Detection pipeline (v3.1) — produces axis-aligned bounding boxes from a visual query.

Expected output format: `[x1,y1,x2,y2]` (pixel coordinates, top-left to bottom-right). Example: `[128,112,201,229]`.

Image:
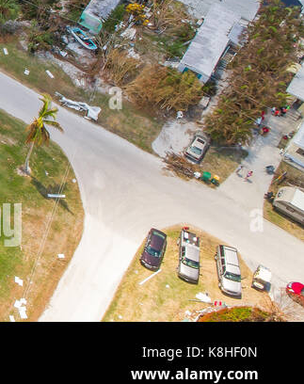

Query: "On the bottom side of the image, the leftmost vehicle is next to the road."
[139,226,169,273]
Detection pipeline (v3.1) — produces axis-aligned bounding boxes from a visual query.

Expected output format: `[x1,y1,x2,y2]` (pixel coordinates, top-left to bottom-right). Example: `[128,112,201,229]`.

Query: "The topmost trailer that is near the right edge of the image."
[256,187,304,242]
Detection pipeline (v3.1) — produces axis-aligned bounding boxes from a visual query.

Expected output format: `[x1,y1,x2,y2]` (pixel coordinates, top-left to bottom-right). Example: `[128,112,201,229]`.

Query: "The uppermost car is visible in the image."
[181,129,214,165]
